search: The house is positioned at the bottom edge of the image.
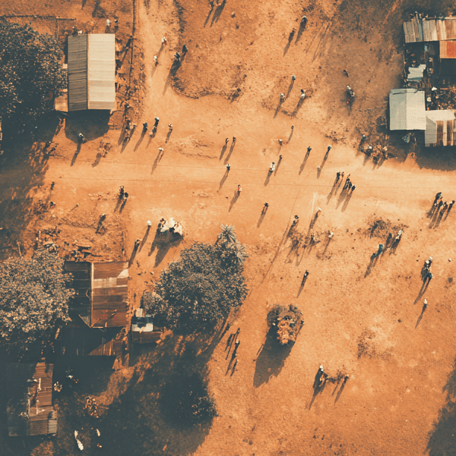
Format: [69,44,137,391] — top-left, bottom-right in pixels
[5,363,57,439]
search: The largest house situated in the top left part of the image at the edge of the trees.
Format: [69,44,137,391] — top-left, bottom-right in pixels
[66,29,118,110]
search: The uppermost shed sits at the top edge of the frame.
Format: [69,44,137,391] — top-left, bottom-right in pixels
[404,15,456,46]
